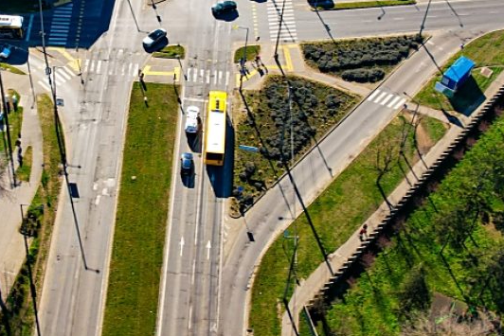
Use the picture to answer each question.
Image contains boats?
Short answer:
No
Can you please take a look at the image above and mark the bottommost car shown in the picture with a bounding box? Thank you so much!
[180,153,195,177]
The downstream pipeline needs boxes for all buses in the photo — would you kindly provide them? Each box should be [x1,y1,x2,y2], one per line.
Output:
[0,14,25,38]
[201,93,228,168]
